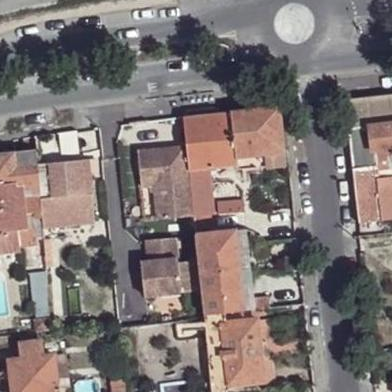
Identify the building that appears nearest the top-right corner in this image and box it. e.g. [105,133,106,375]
[352,96,392,120]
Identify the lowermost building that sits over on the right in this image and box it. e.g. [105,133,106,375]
[206,312,276,392]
